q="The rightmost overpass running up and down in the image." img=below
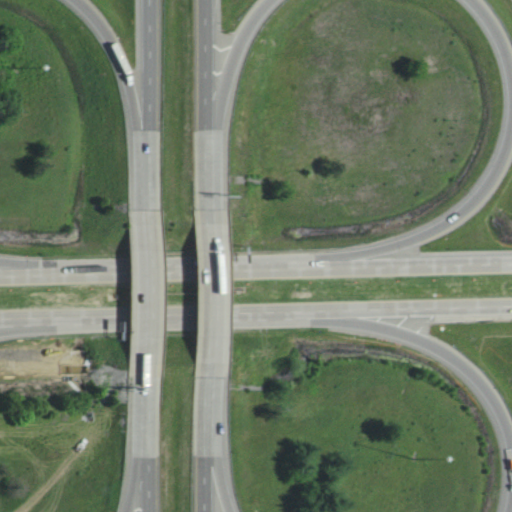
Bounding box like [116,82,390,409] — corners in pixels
[194,210,234,378]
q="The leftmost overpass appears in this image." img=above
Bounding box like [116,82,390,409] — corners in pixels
[128,210,167,378]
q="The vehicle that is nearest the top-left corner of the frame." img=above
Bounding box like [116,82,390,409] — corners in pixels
[107,42,133,82]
